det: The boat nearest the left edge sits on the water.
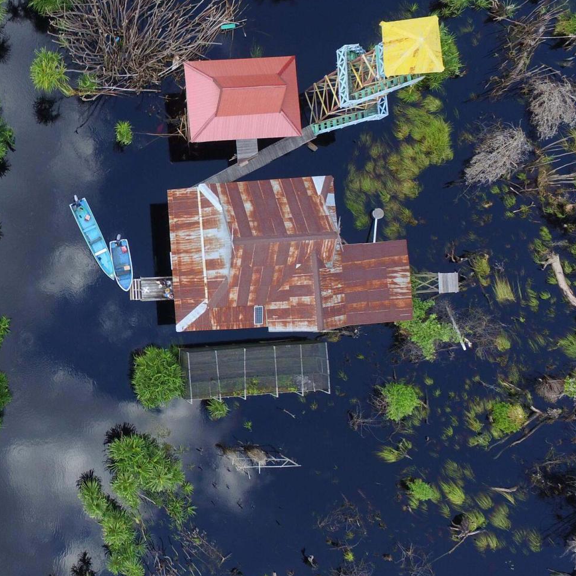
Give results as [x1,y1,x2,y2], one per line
[70,194,115,281]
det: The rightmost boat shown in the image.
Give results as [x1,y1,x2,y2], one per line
[109,232,132,291]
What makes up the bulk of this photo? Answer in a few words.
water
